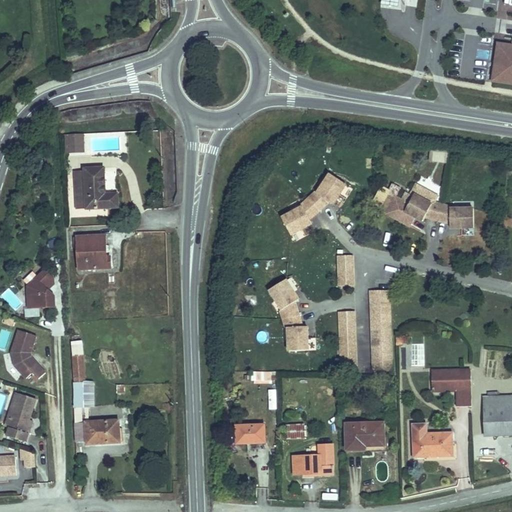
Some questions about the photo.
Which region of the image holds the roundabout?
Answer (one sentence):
The roundabout appears toward the top of the photo.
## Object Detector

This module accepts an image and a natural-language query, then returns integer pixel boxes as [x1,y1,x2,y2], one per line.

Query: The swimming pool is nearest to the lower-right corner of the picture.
[376,461,388,482]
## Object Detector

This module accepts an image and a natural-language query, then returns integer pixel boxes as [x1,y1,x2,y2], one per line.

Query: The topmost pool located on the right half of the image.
[430,150,448,163]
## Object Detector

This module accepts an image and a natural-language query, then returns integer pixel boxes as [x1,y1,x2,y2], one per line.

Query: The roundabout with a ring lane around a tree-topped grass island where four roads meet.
[162,22,268,127]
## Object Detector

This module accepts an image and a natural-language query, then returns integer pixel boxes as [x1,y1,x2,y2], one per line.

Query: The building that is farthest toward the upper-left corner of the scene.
[65,134,84,152]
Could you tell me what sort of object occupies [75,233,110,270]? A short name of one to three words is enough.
house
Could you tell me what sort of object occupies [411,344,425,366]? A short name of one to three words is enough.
greenhouse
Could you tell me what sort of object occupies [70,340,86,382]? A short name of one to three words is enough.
building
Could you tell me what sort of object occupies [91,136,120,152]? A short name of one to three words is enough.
swimming pool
